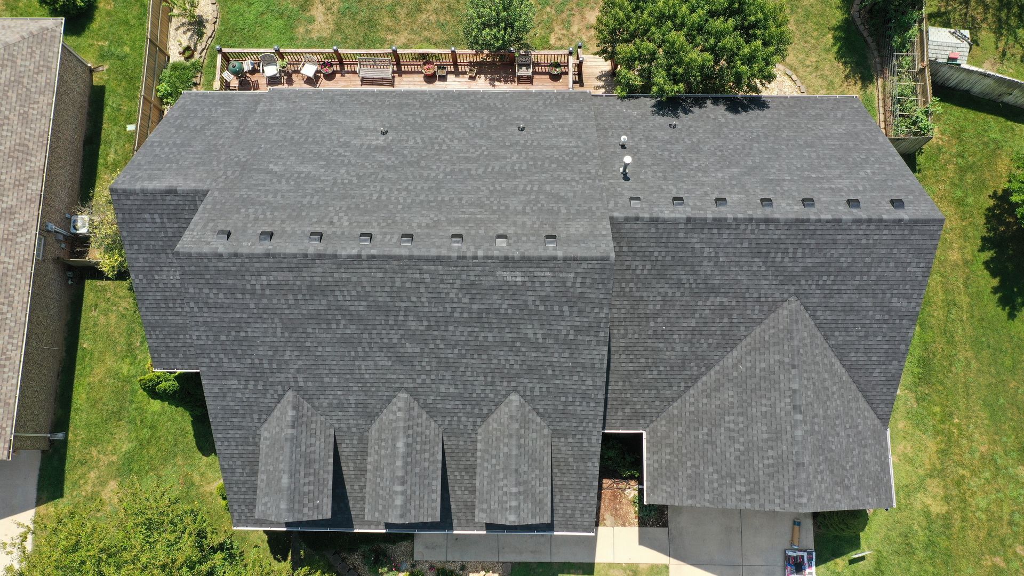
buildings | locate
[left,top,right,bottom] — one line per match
[111,88,946,537]
[928,27,970,67]
[0,15,99,458]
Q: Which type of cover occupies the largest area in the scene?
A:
buildings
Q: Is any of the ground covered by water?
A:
No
